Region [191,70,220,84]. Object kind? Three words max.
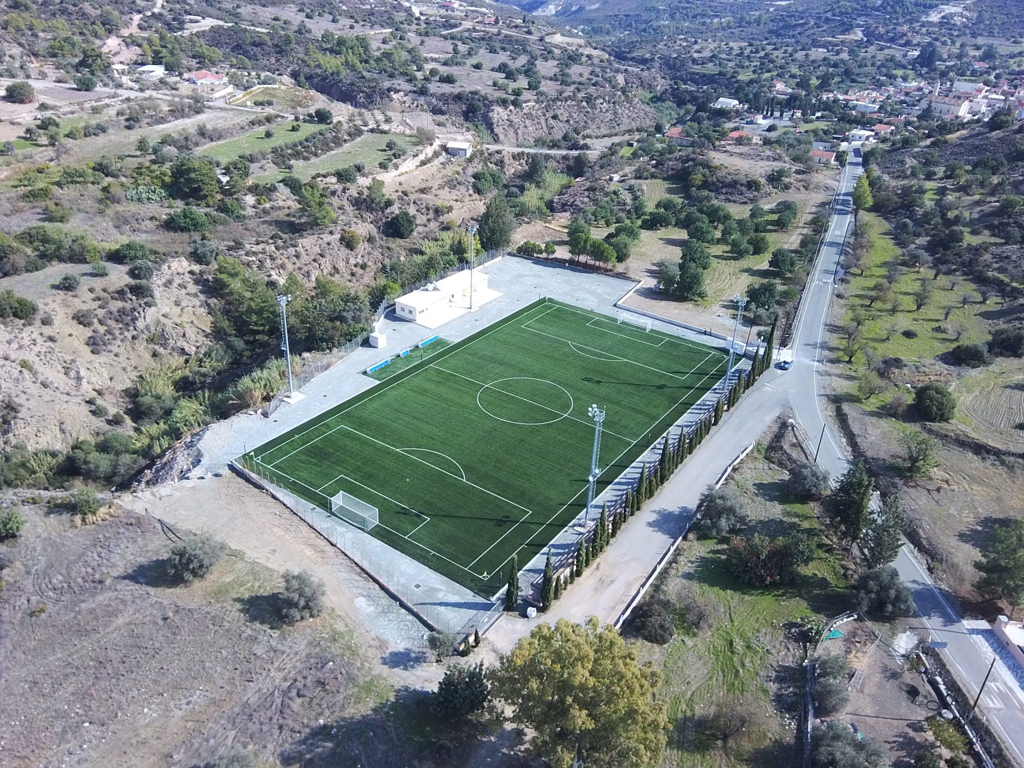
house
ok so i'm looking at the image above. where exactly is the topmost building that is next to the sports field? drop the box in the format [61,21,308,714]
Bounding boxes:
[391,269,506,329]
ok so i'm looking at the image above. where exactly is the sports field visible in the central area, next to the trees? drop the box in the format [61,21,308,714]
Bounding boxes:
[253,302,728,580]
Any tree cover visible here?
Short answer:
Yes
